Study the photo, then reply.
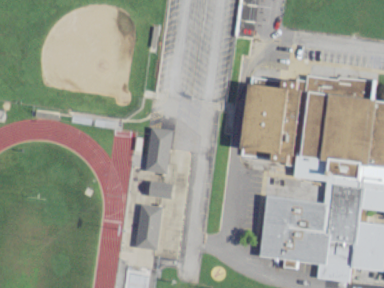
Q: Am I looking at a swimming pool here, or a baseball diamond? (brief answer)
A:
baseball diamond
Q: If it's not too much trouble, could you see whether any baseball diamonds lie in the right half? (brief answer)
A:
No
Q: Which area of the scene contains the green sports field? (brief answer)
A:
bottom left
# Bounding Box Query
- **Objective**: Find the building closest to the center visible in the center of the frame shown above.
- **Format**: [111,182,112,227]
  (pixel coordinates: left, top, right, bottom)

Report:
[145,128,174,172]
